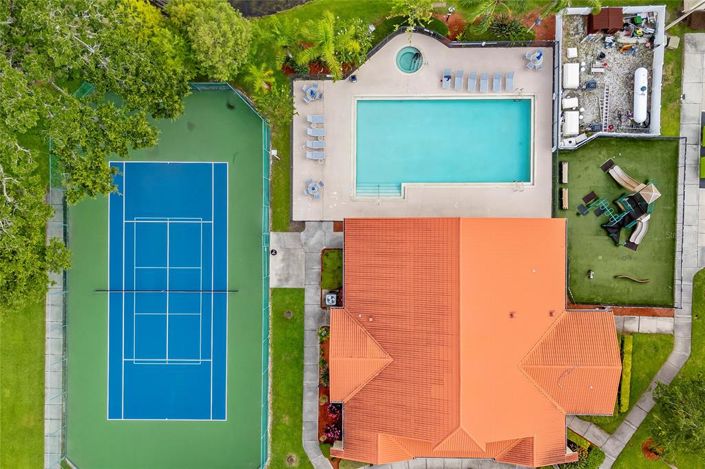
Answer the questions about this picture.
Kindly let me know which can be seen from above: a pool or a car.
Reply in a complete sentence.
The one in the frame is a pool.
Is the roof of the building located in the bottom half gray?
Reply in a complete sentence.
No, the roof of the building located in the bottom half is actually orange.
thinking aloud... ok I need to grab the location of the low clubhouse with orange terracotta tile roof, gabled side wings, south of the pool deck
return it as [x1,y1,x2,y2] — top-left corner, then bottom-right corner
[328,216,622,468]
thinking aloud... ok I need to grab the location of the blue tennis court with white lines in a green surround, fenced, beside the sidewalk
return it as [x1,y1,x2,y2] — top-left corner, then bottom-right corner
[66,90,269,469]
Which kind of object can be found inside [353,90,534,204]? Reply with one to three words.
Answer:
swimming pool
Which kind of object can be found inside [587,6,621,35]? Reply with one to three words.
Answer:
shed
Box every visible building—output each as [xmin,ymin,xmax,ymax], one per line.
[587,6,621,35]
[328,216,622,468]
[675,0,705,17]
